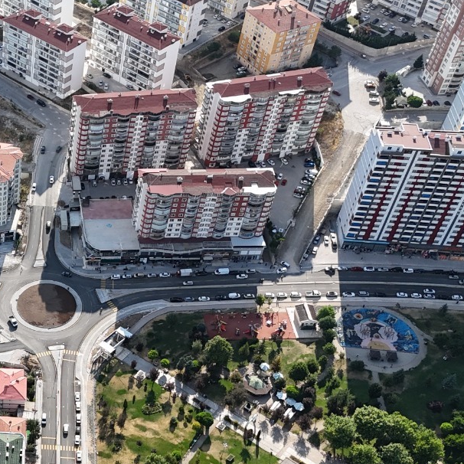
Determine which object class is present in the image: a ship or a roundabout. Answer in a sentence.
Of the two, only a roundabout appears.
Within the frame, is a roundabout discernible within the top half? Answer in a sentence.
No, no roundabout can be made out within the top half.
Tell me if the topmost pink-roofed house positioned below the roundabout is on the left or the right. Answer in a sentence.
The topmost pink-roofed house positioned below the roundabout sits on the left side.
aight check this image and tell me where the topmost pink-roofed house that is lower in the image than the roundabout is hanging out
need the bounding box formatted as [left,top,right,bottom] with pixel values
[0,370,28,411]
